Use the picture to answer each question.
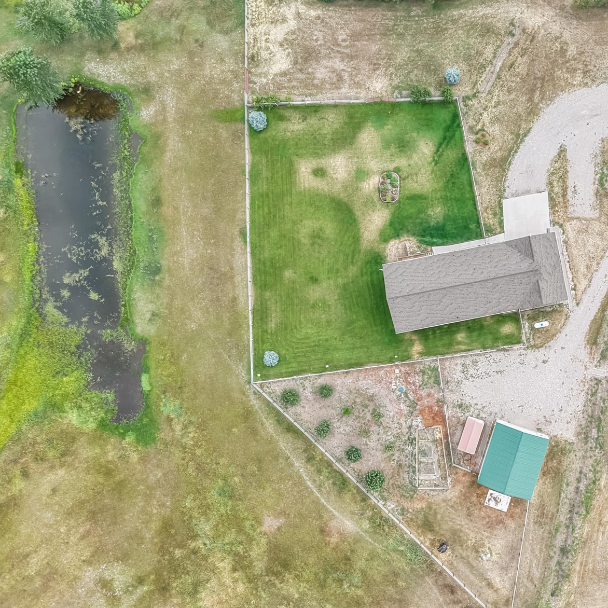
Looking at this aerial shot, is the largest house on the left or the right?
right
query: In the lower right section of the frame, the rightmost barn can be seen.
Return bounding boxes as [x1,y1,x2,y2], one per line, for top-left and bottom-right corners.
[476,420,550,500]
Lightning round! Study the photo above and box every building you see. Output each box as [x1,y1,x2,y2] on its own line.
[378,228,569,334]
[458,417,485,454]
[476,420,550,500]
